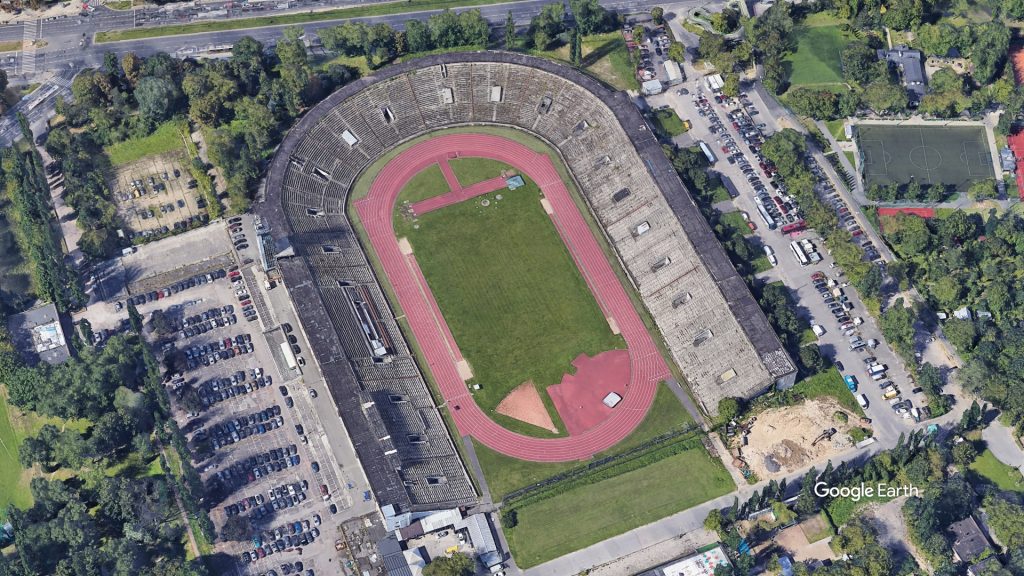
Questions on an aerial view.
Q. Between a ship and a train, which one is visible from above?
train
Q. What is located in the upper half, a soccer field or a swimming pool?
soccer field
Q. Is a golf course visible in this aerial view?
No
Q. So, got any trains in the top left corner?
Yes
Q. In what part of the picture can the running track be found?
center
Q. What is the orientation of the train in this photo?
at an angle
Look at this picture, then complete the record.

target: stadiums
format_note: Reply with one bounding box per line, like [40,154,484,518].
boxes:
[256,47,800,515]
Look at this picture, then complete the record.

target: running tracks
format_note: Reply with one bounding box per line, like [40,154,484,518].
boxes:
[353,134,708,502]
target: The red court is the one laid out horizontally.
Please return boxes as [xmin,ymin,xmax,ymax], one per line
[878,206,935,232]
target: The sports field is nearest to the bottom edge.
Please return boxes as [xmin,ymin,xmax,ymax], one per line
[506,446,737,569]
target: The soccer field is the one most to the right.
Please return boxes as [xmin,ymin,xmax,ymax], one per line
[855,124,1001,193]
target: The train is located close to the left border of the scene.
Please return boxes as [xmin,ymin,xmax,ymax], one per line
[28,86,60,111]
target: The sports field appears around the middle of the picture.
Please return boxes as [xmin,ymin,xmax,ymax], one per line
[393,156,632,437]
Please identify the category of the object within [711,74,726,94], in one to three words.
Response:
vehicle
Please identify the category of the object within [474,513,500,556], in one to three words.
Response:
building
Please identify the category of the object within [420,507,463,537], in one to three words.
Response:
shed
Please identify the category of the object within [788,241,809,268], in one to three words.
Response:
bus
